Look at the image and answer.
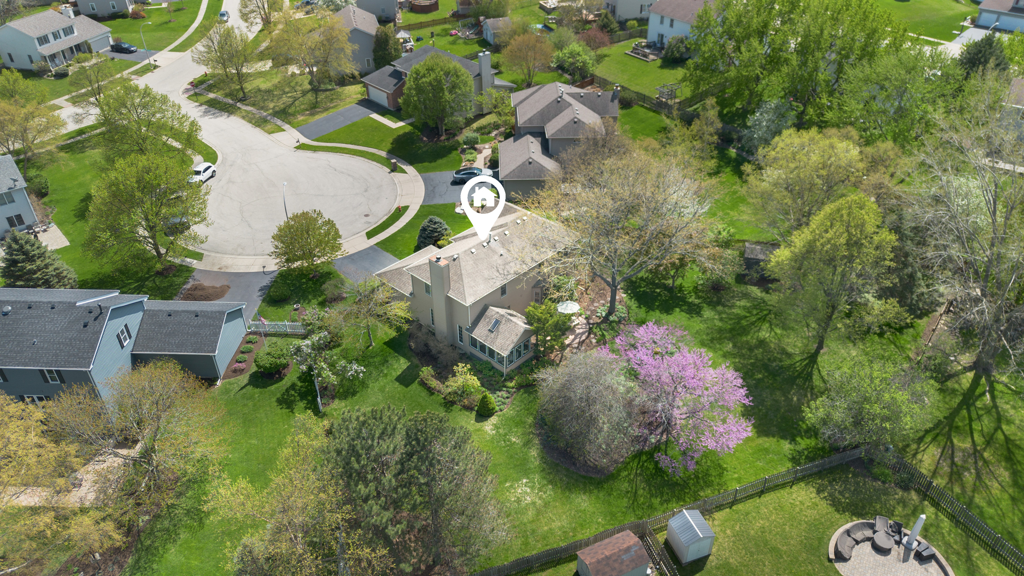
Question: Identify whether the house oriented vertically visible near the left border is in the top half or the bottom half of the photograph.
top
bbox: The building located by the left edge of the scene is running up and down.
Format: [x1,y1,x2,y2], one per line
[0,152,40,234]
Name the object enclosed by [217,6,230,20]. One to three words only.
vehicle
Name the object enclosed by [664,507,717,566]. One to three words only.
shed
